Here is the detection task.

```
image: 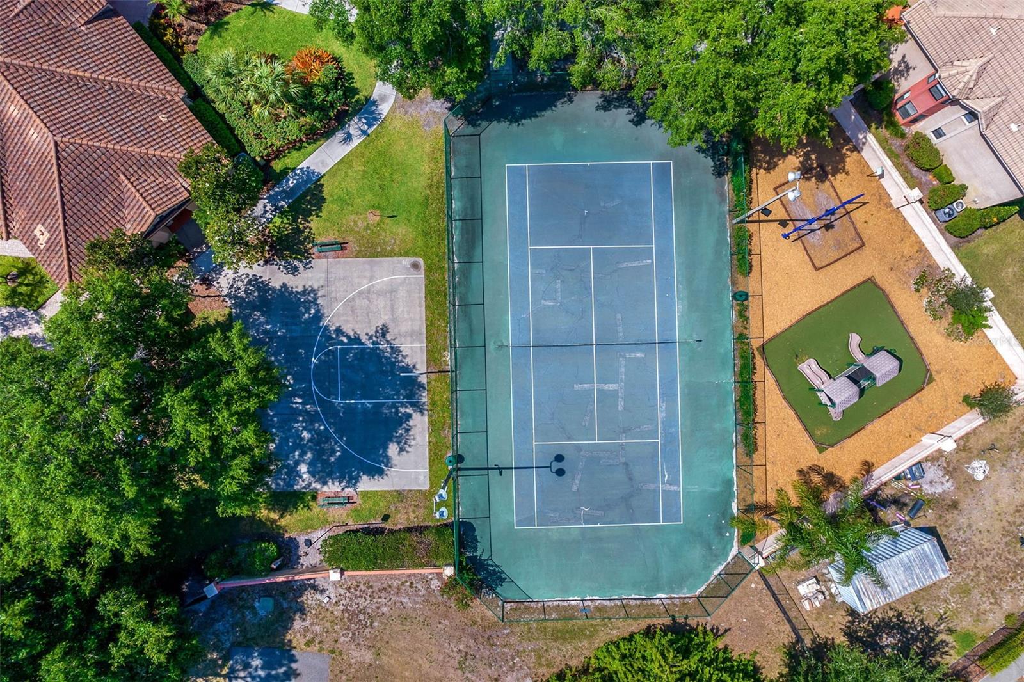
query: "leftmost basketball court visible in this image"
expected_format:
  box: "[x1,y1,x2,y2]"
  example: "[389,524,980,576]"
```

[192,257,428,492]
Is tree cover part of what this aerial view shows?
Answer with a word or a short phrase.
Yes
